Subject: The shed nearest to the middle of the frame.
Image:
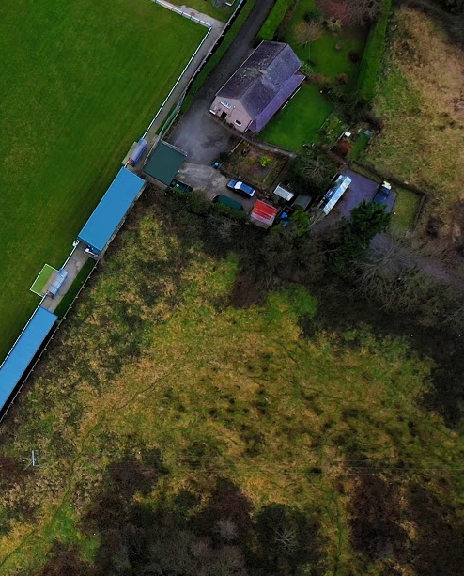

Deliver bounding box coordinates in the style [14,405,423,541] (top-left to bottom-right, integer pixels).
[250,201,278,228]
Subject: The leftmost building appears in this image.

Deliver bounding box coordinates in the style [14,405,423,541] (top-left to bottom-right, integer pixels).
[141,140,188,192]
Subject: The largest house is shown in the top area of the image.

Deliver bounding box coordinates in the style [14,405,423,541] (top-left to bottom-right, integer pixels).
[210,40,307,136]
